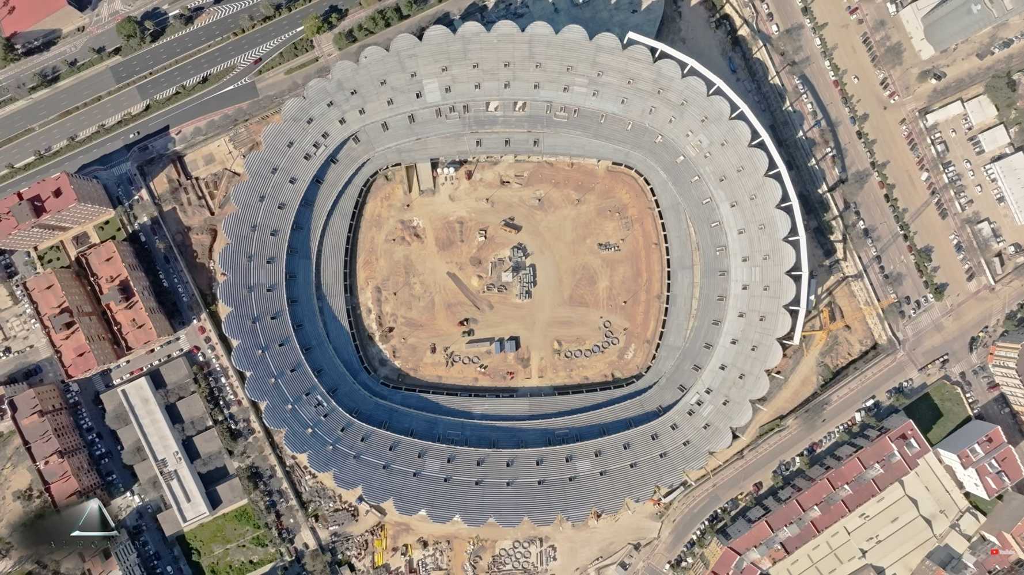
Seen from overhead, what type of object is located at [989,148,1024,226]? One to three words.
shed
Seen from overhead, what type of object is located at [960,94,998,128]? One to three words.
shed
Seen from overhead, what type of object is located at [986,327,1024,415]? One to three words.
building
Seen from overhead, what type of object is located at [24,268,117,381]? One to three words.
building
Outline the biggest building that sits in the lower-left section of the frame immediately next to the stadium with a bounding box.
[100,356,253,536]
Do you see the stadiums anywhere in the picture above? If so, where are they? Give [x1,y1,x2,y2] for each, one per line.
[216,17,809,532]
